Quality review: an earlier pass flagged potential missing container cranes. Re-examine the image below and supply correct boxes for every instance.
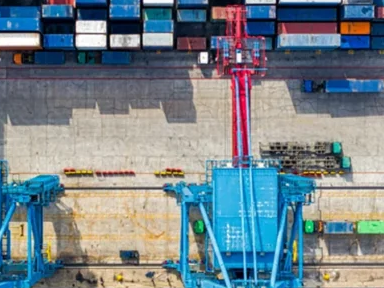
[0,158,67,288]
[163,7,313,288]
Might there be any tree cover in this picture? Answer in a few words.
No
